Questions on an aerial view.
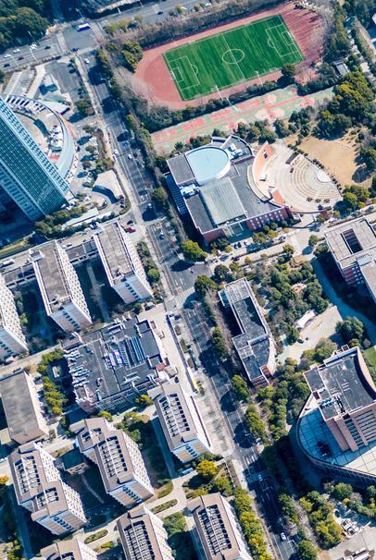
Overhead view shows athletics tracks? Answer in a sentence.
Yes, I can see an athletics track in this picture.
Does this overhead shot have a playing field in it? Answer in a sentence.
Yes, you can see a playing field in this photo.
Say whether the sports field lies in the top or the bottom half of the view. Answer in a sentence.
The top half of the photo is where the sports field is.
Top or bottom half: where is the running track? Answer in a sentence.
You can find the running track in the top half.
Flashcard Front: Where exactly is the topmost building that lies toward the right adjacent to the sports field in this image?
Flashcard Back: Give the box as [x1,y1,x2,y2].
[167,135,295,245]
